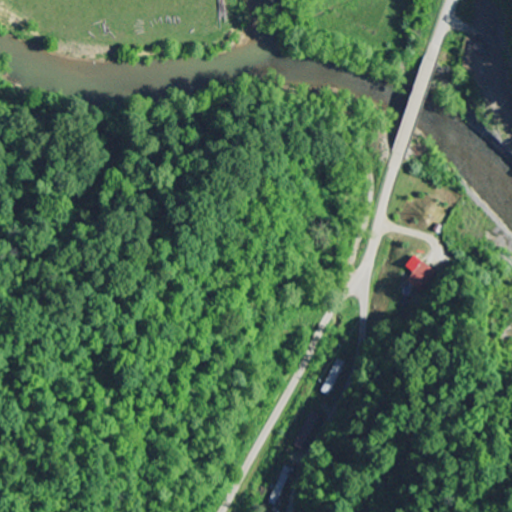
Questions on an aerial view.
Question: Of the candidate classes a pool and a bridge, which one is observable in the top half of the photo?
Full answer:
Looking in the top half of the photo, you will find a bridge.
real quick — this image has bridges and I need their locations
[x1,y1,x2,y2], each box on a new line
[388,44,442,164]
